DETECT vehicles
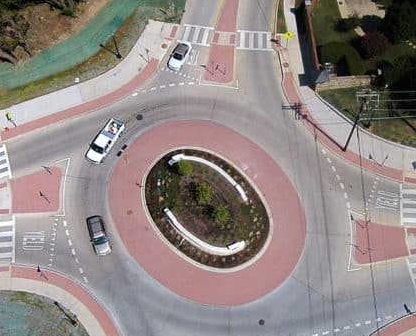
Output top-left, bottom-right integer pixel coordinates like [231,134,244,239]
[165,39,193,73]
[86,118,127,165]
[84,213,113,257]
